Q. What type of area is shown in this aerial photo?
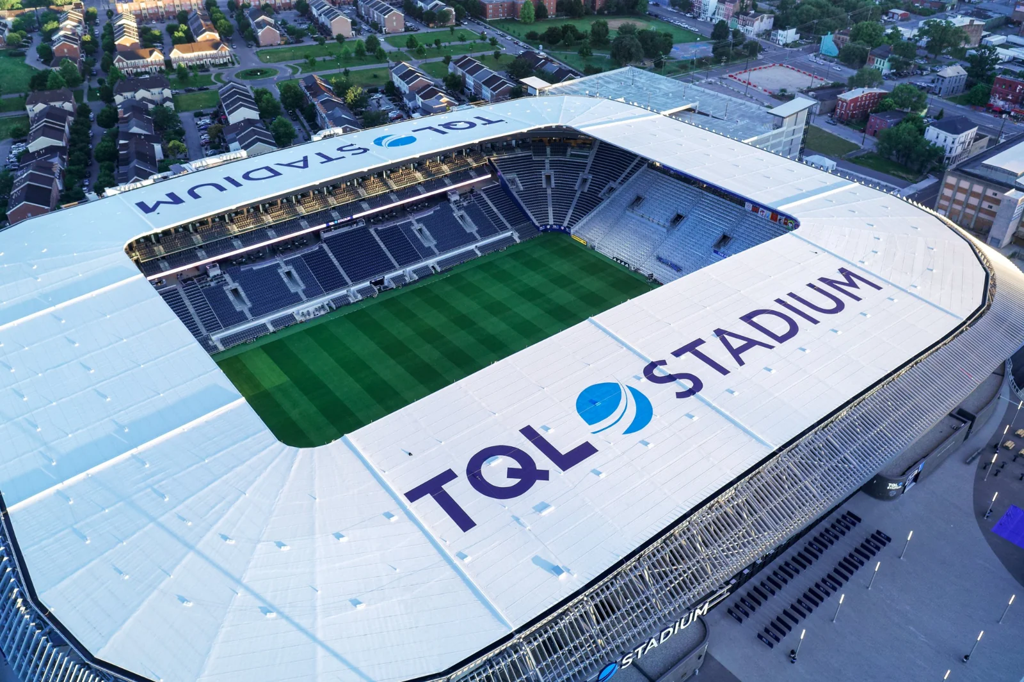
sports ground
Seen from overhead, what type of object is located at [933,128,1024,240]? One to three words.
building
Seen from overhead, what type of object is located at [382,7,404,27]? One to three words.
house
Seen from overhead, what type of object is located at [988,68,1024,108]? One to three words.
building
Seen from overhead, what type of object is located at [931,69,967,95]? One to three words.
house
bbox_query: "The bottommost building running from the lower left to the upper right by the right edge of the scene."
[846,409,975,509]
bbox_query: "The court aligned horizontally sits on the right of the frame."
[668,41,714,59]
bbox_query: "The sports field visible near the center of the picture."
[241,234,657,445]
